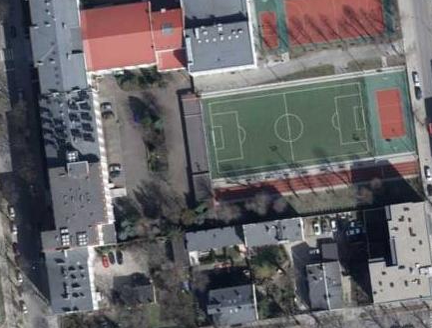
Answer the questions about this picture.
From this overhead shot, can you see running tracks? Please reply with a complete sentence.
Yes, you can see a running track in this photo.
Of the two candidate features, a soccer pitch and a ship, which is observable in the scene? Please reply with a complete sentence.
There is a soccer pitch in the scene.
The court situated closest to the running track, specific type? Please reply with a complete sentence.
What you see as the court situated closest to the running track is a basketball court.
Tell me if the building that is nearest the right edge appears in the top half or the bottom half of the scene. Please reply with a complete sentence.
The building that is nearest the right edge sits in the bottom half of the picture.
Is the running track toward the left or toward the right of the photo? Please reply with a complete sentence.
It is on the right.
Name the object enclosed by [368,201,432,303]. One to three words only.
building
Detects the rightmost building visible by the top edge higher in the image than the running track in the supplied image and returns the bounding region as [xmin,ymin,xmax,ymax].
[181,0,255,74]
